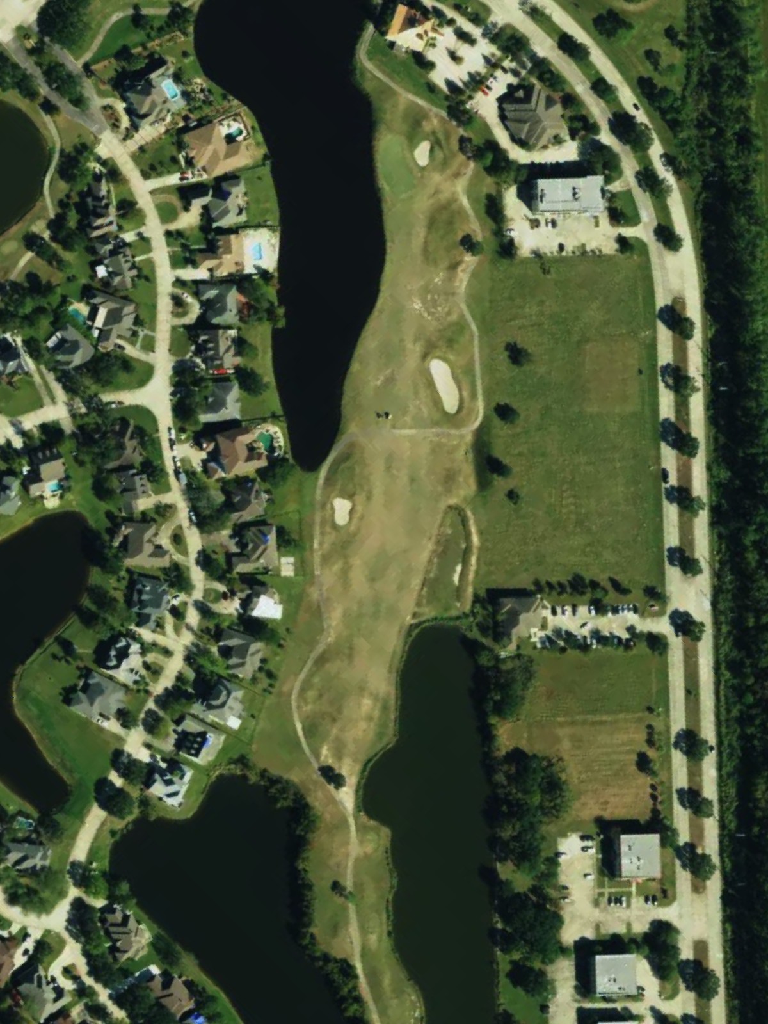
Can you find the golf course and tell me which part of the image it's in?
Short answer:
center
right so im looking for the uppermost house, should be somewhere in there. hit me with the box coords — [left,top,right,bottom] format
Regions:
[386,1,438,40]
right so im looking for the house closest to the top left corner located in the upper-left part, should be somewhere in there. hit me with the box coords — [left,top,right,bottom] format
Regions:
[121,70,171,132]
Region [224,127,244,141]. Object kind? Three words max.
swimming pool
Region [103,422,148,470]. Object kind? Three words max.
house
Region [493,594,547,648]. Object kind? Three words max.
building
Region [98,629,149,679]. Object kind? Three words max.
house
